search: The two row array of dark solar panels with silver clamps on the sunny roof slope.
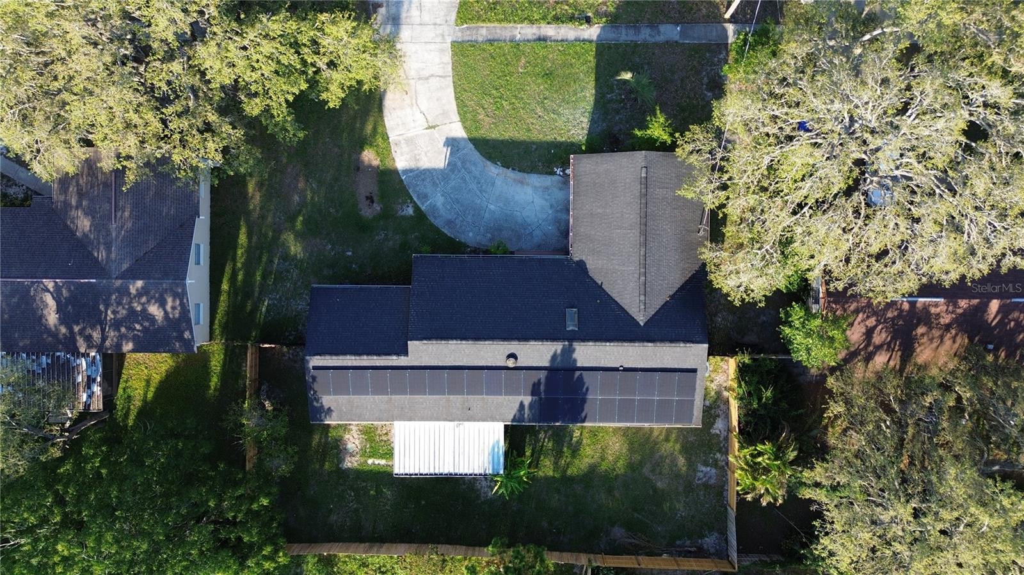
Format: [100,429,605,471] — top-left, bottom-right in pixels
[312,371,697,425]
